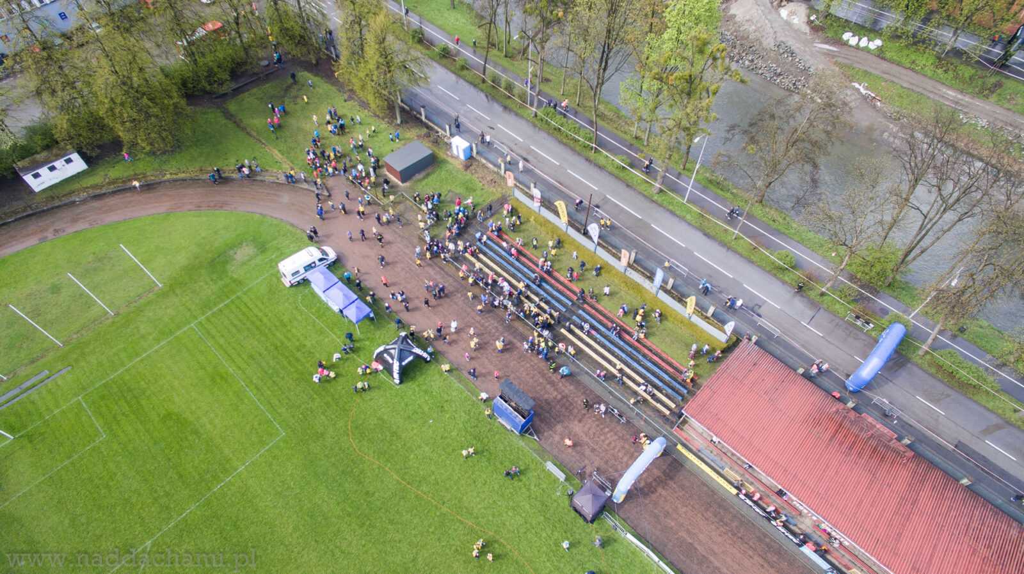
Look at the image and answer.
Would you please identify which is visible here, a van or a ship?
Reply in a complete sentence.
This aerial view contains a van.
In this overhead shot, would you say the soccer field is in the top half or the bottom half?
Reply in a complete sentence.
Seen from above, the soccer field lies in the bottom half of the view.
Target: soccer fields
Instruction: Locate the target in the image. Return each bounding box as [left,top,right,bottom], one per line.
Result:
[0,212,676,574]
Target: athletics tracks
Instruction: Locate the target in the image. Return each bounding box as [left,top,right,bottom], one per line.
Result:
[0,174,827,574]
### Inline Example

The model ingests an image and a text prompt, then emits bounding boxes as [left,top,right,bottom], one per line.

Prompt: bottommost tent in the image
[569,480,608,525]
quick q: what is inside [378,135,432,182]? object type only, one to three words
shed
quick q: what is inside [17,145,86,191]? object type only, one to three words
shed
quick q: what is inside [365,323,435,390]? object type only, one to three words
tent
